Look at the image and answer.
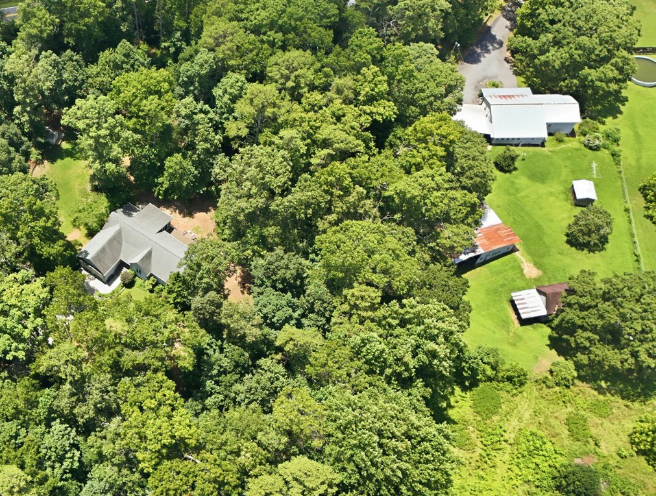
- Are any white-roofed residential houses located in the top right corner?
Yes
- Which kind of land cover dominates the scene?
trees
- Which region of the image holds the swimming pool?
top right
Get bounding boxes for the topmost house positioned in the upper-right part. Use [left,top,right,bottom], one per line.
[454,87,582,150]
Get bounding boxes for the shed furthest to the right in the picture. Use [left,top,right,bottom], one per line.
[570,179,597,206]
